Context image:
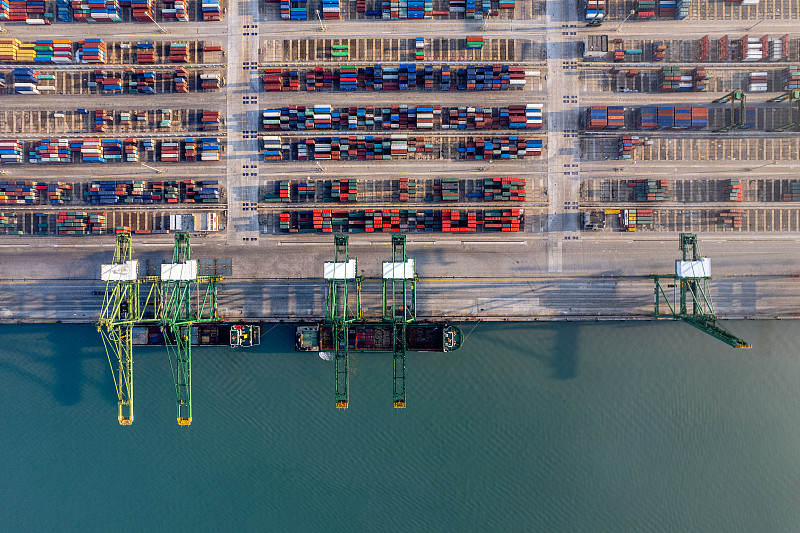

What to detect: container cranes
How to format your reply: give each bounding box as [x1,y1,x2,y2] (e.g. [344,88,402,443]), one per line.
[644,235,751,352]
[380,237,419,410]
[163,237,225,425]
[99,238,171,425]
[765,91,800,134]
[712,91,745,134]
[324,237,366,410]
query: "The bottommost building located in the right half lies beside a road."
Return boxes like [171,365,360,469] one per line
[579,209,605,229]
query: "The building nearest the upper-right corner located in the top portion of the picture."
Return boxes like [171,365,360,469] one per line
[582,35,609,58]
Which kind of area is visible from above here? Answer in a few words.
port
